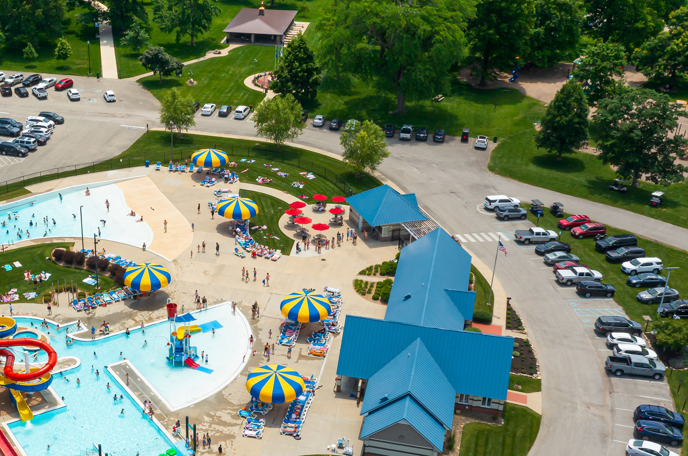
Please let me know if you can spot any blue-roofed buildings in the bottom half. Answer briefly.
Yes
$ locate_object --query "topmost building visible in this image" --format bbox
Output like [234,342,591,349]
[220,0,301,49]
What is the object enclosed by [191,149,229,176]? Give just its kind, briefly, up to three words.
umbrella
